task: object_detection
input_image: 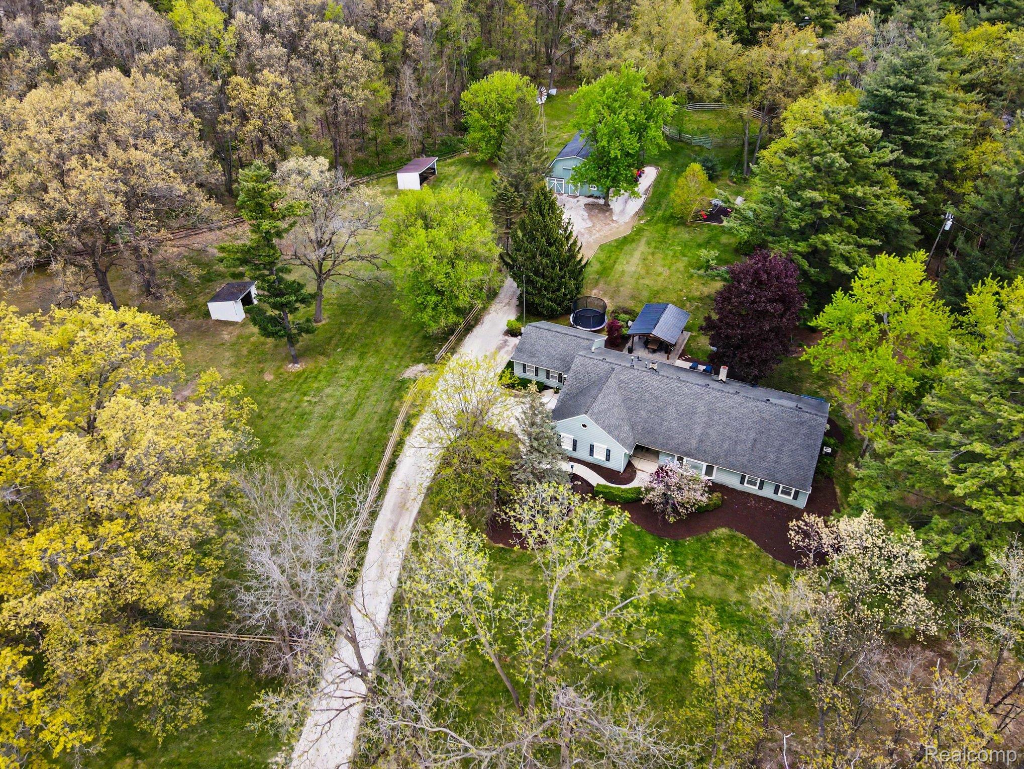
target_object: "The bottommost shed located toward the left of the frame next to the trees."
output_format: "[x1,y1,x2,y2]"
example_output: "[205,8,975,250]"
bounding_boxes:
[203,280,258,321]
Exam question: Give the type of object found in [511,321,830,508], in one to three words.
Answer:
house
